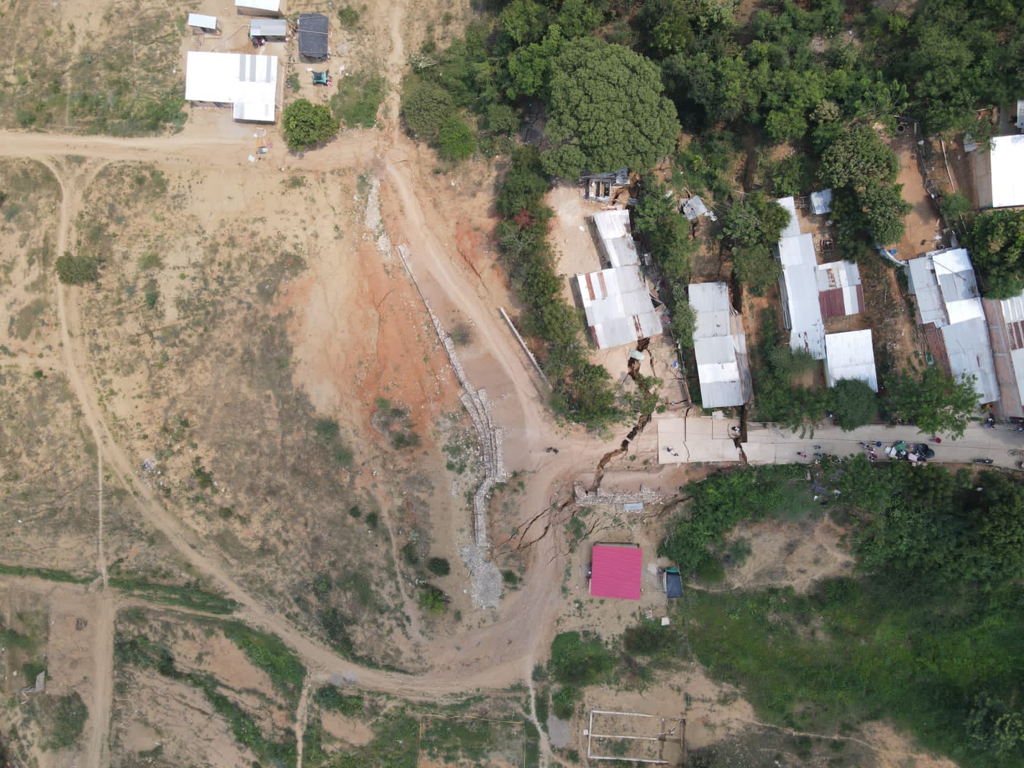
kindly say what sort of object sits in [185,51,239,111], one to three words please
house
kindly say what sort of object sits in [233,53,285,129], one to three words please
house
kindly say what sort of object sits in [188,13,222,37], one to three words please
shed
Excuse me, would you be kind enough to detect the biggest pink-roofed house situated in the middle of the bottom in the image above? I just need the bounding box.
[590,543,642,600]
